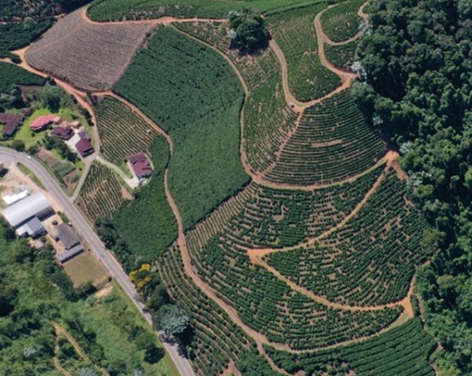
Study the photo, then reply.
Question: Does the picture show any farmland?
Yes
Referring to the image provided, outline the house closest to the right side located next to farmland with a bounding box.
[128,153,149,184]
